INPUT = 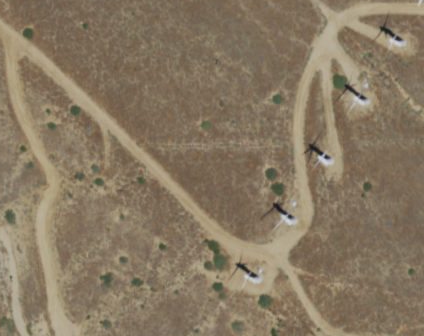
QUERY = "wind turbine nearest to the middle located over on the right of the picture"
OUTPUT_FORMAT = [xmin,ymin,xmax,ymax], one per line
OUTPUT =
[270,208,300,234]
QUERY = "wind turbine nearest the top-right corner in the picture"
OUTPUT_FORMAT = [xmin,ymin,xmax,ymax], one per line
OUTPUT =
[382,30,408,58]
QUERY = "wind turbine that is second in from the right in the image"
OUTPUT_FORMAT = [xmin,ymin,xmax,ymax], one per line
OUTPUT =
[345,88,373,116]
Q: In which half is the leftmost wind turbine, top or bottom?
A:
bottom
